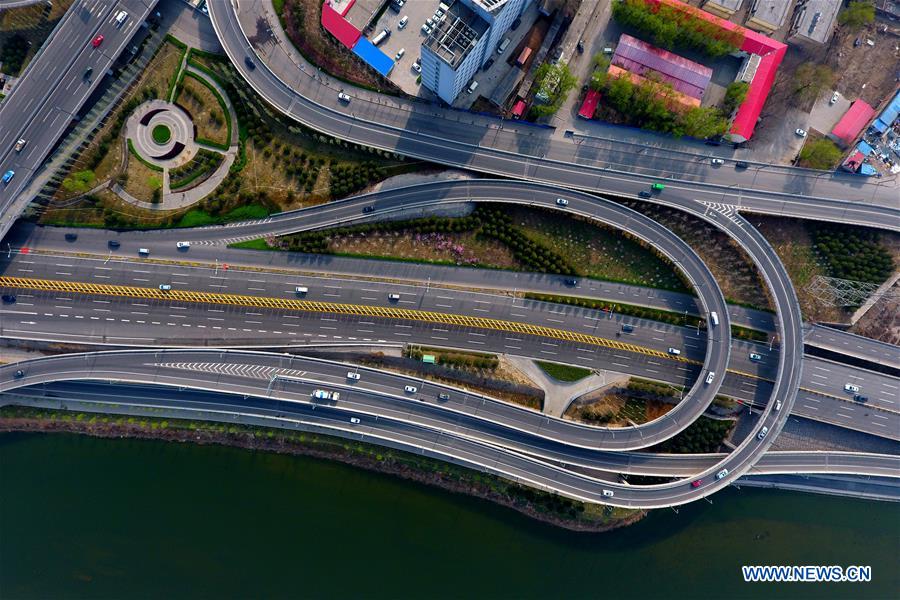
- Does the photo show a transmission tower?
Yes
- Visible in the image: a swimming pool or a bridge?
bridge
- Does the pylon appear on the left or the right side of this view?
right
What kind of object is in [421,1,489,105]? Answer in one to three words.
building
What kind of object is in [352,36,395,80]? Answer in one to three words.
shed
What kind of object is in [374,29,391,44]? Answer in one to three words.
vehicle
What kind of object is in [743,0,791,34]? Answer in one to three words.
house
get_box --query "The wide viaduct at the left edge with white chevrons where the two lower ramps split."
[0,349,279,401]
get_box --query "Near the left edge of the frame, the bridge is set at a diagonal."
[0,0,160,222]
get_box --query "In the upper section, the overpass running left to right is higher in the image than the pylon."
[207,0,900,232]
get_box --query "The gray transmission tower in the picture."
[806,275,886,307]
